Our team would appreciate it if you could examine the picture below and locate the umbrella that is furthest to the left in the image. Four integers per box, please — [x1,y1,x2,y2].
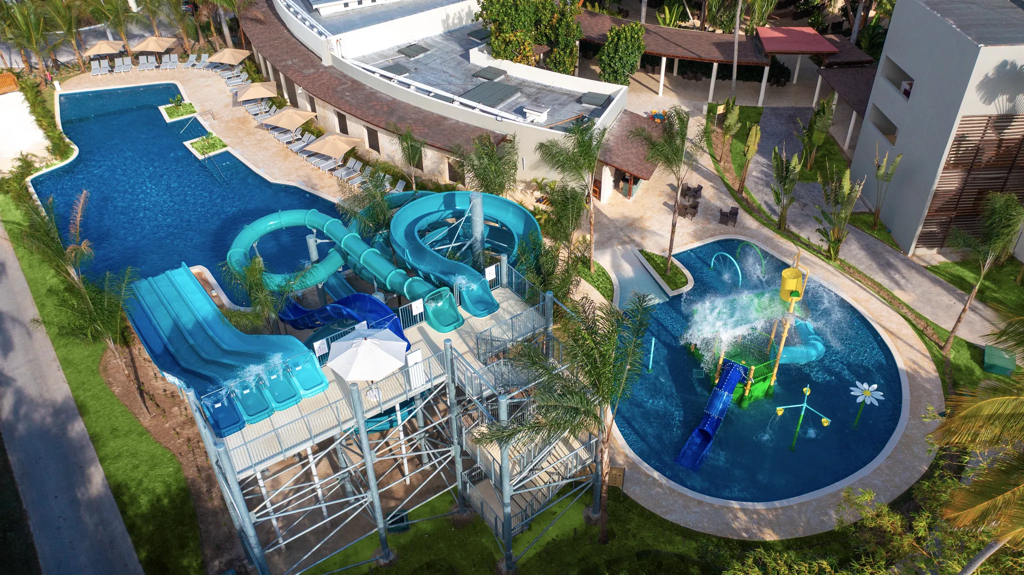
[84,41,129,73]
